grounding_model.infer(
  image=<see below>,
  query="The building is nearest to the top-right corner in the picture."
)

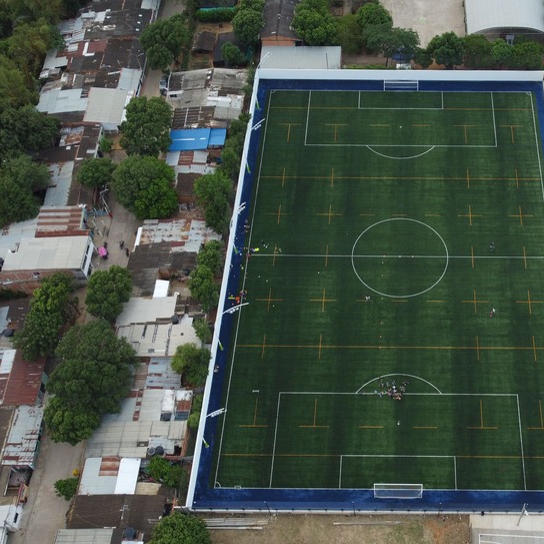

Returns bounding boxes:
[462,0,544,45]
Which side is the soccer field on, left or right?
right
